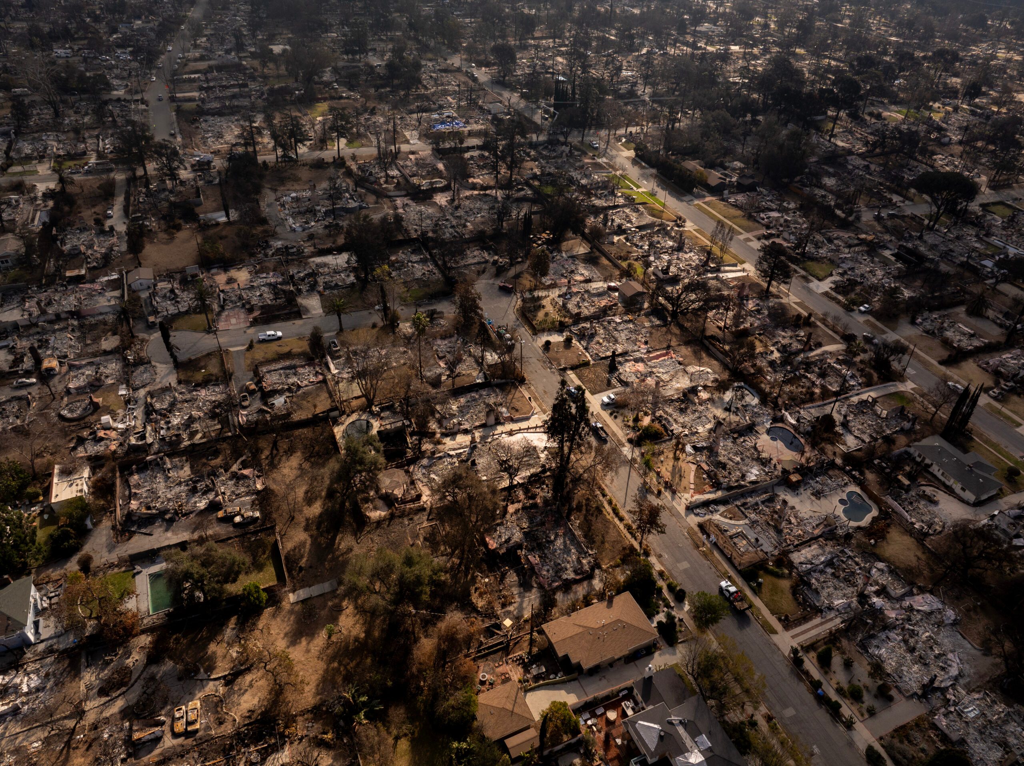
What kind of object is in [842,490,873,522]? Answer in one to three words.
swimming pool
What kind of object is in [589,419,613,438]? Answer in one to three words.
vehicle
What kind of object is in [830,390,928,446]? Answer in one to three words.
house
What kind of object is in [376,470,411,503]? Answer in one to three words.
gazebo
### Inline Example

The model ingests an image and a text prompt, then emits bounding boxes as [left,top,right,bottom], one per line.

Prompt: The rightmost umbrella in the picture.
[782,452,803,466]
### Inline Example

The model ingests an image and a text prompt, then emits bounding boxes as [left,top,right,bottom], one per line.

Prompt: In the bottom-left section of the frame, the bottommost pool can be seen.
[147,560,173,616]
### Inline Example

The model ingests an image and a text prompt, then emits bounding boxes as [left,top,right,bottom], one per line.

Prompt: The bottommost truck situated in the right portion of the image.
[714,576,760,614]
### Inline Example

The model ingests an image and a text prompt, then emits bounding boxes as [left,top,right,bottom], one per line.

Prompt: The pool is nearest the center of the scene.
[345,419,373,442]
